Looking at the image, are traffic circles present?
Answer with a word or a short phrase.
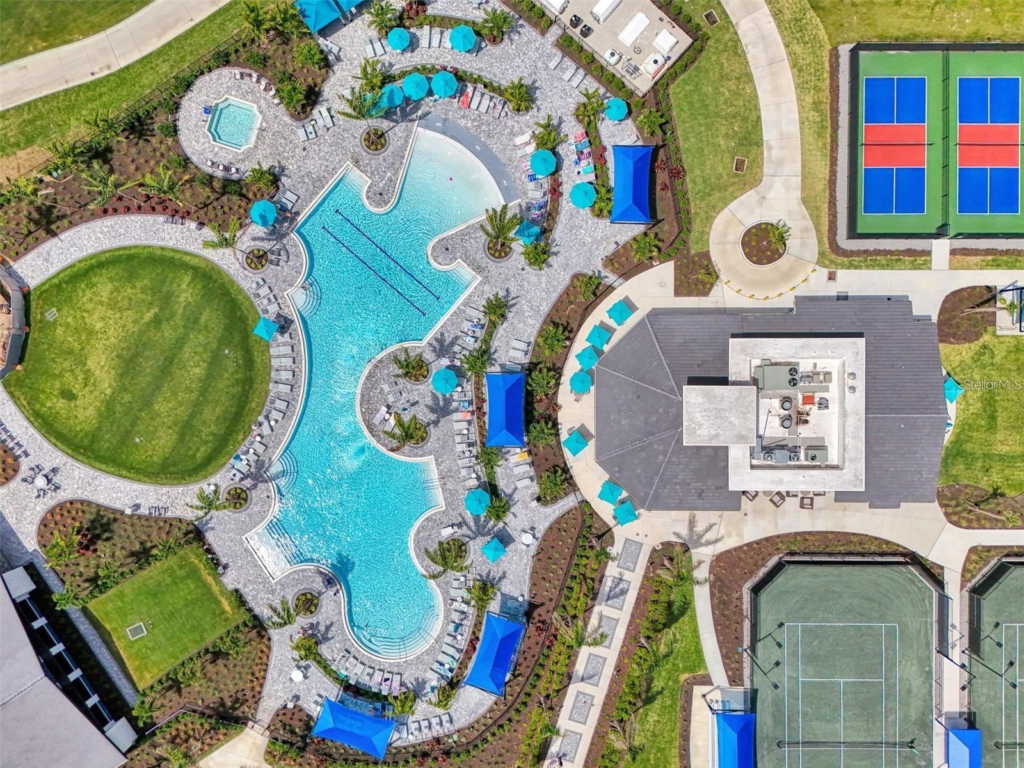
Yes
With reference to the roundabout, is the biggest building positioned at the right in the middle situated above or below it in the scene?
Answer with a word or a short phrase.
below it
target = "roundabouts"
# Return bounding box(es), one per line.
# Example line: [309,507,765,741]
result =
[739,219,789,269]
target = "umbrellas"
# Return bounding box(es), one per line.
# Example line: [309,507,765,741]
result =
[387,29,410,54]
[612,500,637,526]
[251,200,278,227]
[449,26,475,53]
[943,375,963,402]
[430,72,457,99]
[569,183,595,209]
[597,479,622,504]
[481,536,507,562]
[570,371,592,393]
[604,99,627,122]
[944,418,954,437]
[432,368,458,395]
[586,324,611,349]
[605,299,632,326]
[562,430,588,456]
[514,219,542,246]
[464,489,490,515]
[529,150,556,177]
[255,318,278,340]
[573,345,600,371]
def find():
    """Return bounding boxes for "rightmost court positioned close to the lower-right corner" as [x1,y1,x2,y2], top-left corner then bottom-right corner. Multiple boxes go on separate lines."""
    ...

[967,562,1024,768]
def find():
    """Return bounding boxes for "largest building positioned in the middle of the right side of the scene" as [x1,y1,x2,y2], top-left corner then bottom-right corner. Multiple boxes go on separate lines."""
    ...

[594,301,948,510]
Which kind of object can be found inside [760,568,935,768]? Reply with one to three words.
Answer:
tennis court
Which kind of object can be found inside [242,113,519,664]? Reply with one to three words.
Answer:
swimming pool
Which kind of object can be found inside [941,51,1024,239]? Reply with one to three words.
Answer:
sports court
